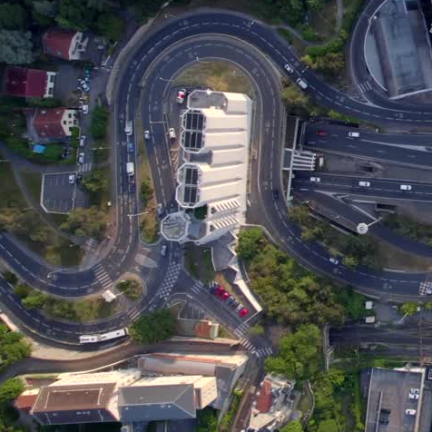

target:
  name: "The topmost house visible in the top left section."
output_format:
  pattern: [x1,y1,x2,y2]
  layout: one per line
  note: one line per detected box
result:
[44,28,88,60]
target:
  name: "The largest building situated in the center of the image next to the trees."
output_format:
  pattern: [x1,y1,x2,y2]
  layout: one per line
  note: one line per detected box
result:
[161,90,253,270]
